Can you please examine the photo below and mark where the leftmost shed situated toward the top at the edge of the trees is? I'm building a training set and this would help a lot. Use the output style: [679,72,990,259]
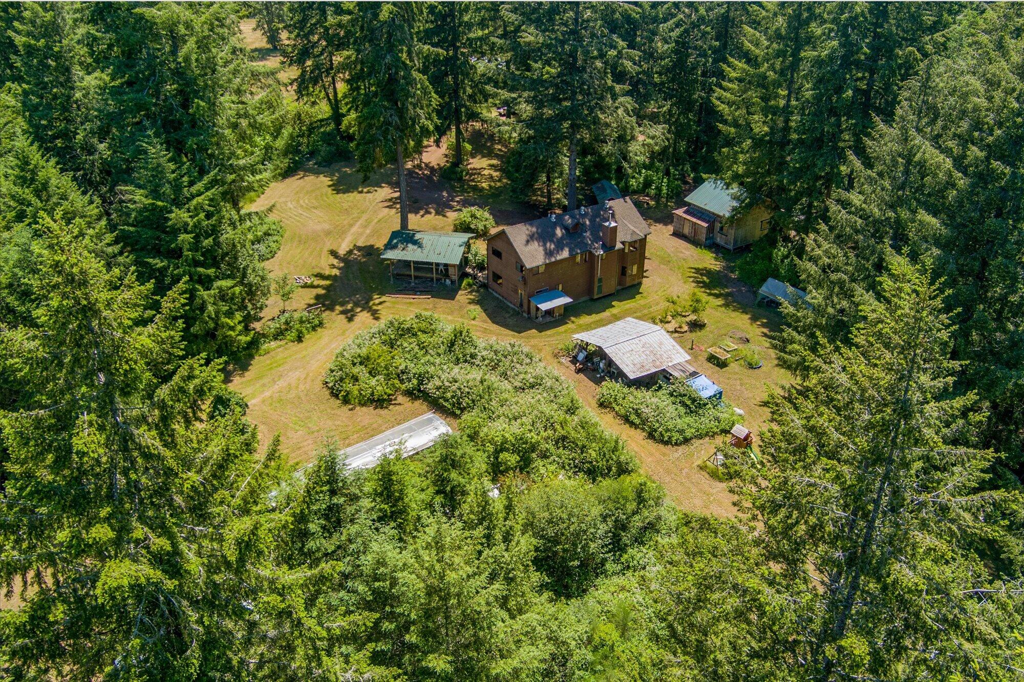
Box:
[381,227,476,289]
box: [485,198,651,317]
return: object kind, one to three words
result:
house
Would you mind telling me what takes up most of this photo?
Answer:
trees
